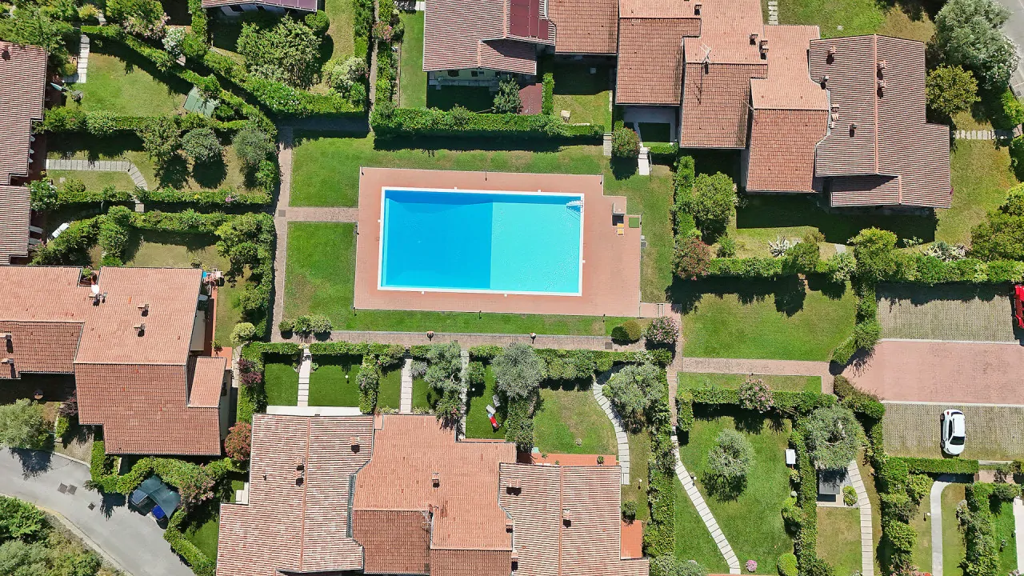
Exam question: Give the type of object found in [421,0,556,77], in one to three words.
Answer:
house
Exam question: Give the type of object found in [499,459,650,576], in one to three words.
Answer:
house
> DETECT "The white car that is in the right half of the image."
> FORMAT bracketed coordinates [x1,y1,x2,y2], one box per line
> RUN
[939,409,968,455]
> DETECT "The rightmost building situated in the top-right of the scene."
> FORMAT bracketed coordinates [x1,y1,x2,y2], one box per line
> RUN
[810,33,952,208]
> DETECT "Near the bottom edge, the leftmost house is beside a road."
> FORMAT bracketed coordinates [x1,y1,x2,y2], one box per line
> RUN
[214,411,374,576]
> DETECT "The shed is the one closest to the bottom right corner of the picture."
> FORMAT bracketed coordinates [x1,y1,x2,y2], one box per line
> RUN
[813,464,840,495]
